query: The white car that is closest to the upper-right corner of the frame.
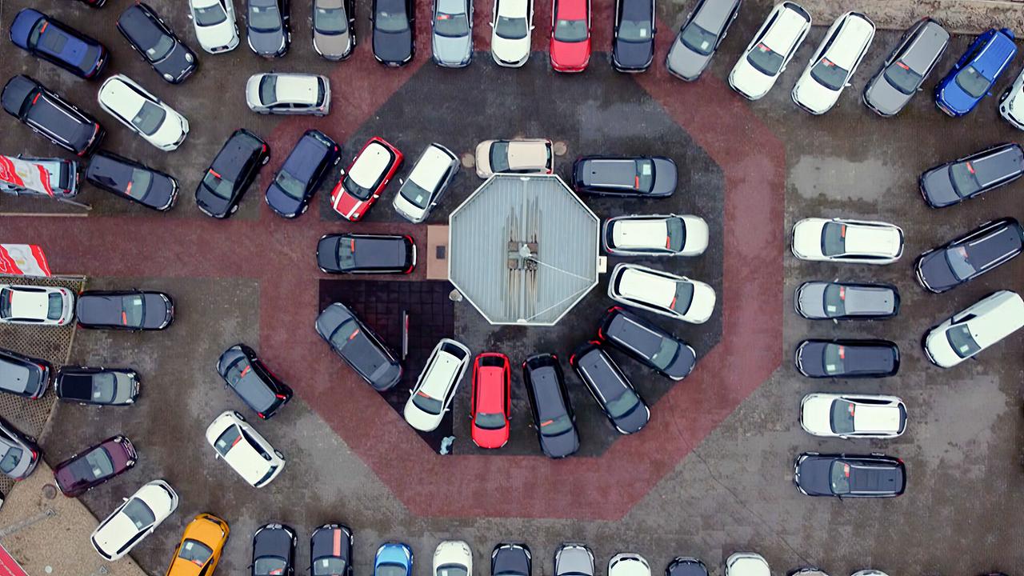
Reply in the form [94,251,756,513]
[995,64,1024,125]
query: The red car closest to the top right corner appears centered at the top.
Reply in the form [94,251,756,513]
[547,0,595,73]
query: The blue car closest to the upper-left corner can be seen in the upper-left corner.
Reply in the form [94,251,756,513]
[12,12,112,80]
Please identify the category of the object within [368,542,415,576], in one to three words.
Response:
car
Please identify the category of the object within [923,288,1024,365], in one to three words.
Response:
van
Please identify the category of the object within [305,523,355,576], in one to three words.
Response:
car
